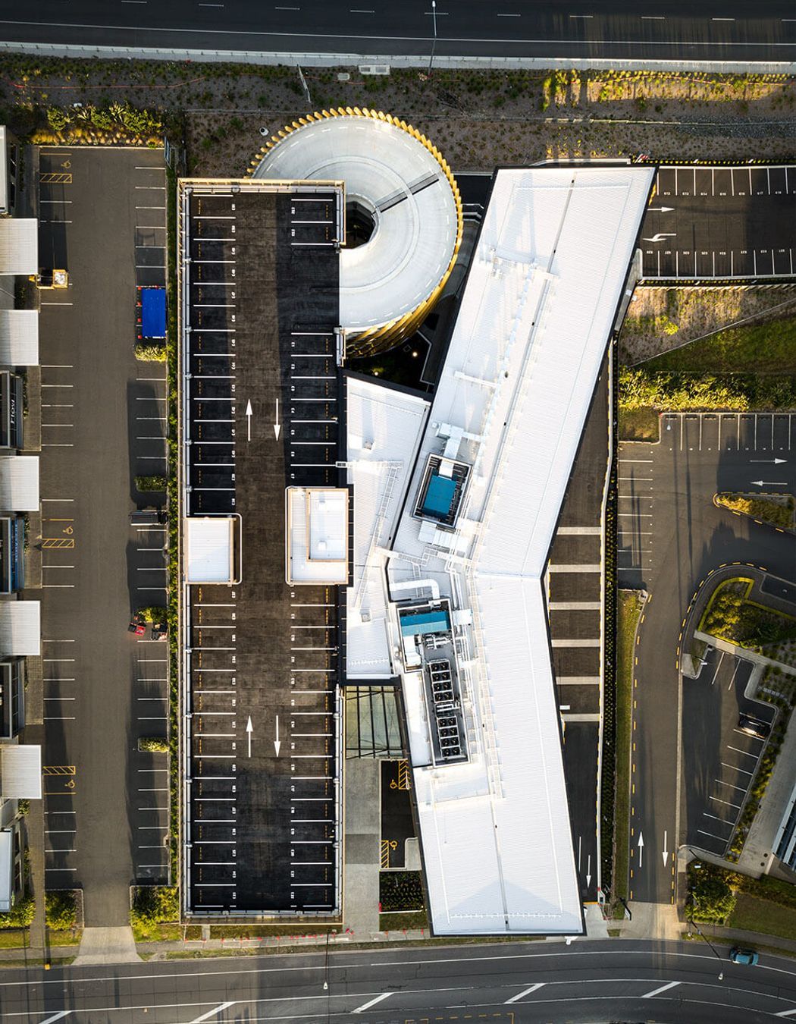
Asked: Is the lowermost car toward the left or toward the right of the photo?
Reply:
right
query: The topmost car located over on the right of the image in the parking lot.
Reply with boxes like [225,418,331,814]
[735,713,771,735]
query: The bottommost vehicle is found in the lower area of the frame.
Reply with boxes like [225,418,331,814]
[726,946,758,967]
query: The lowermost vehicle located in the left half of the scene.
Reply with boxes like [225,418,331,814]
[129,511,170,526]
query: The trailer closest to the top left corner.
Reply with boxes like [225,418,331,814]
[29,269,73,290]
